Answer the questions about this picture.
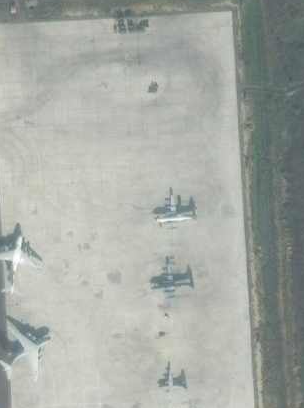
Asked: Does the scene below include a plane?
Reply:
Yes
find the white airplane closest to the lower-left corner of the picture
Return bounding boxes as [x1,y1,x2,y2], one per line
[0,325,49,379]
